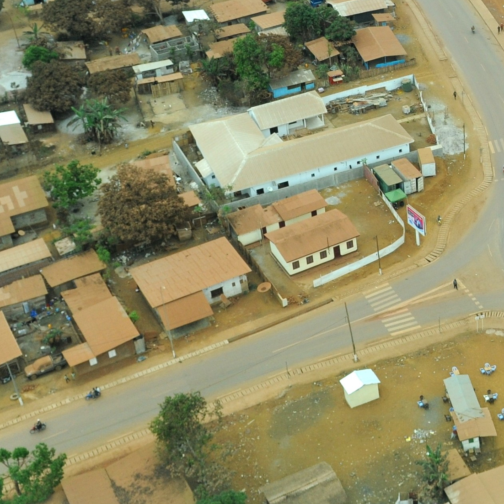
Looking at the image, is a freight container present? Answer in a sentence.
Yes, there is a freight container in the image.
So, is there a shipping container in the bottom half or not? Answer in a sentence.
No, looking in the bottom half, there is no shipping container.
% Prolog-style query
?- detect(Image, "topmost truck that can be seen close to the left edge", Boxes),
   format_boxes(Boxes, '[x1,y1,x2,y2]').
[24,355,67,378]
